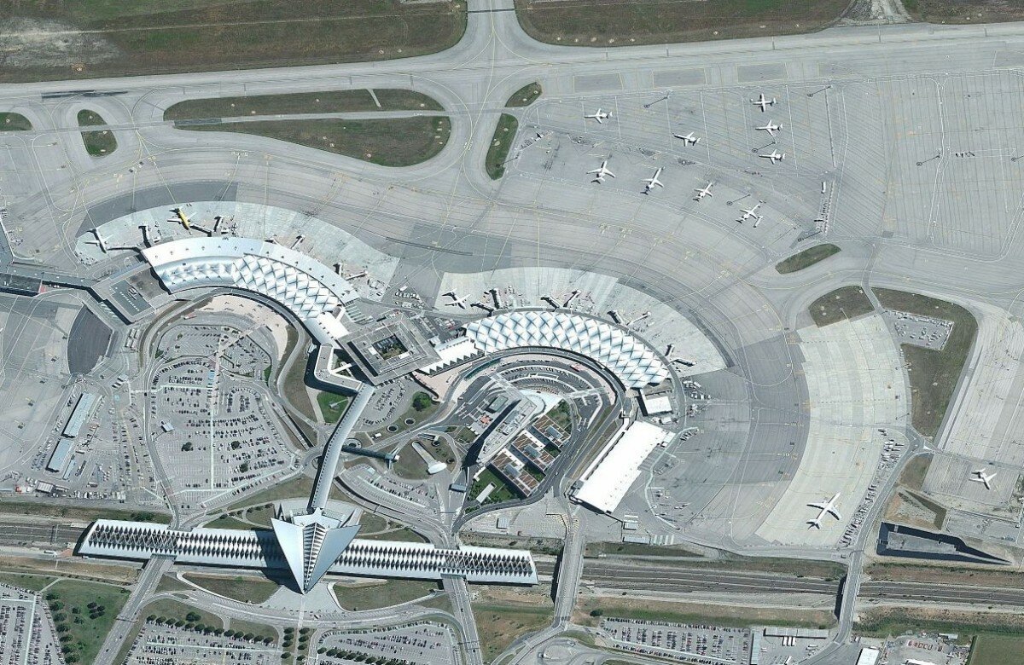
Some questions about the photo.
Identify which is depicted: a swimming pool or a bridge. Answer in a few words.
bridge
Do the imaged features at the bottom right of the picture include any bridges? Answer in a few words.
Yes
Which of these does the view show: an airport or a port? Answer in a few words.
airport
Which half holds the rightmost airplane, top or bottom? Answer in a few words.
bottom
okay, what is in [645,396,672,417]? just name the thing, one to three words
building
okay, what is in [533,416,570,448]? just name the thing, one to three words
building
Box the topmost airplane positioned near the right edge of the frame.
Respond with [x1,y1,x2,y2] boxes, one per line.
[971,467,994,489]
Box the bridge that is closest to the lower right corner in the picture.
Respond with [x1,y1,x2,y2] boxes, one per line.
[797,546,865,665]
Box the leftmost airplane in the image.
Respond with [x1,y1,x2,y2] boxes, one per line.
[86,226,110,252]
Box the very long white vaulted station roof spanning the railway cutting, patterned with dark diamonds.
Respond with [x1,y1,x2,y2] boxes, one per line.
[77,520,538,584]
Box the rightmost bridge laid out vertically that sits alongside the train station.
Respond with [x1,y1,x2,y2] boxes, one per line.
[553,522,584,617]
